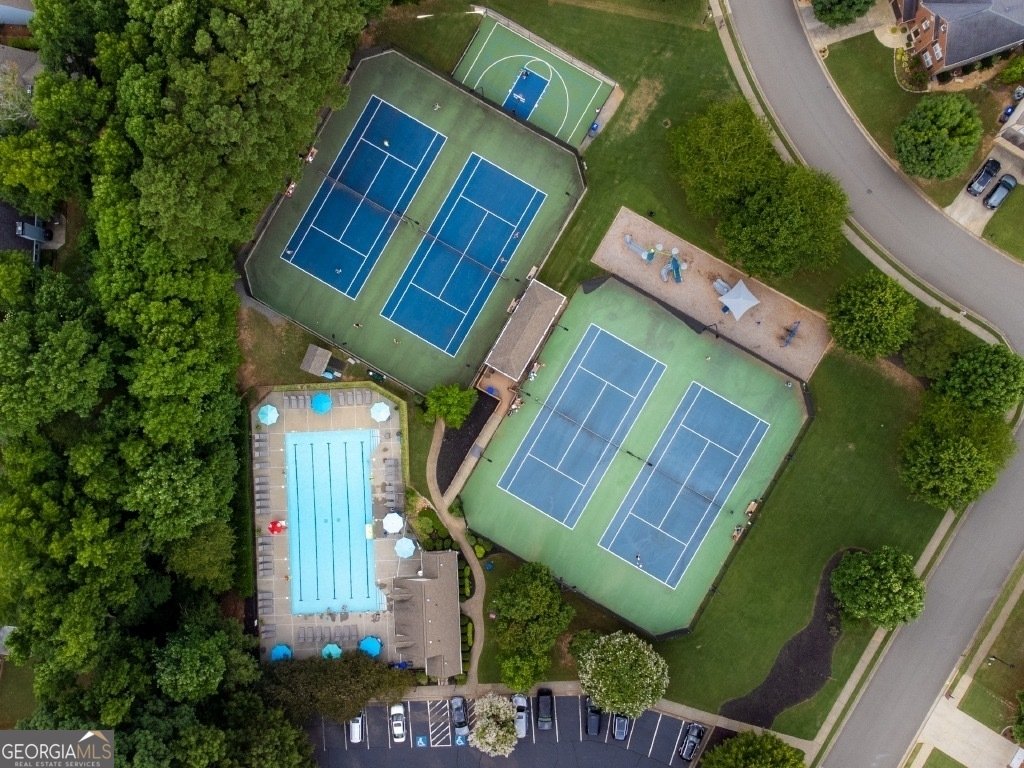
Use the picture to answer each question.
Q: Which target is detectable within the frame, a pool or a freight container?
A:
pool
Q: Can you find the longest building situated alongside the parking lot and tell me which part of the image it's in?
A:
bottom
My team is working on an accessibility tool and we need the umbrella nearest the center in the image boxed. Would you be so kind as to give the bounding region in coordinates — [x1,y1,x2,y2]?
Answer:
[370,401,391,422]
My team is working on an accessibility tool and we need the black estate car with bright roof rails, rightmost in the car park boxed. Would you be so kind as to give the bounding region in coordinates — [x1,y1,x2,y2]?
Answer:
[678,720,703,762]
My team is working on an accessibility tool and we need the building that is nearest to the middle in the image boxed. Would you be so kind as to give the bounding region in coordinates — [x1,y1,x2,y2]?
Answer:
[485,280,567,381]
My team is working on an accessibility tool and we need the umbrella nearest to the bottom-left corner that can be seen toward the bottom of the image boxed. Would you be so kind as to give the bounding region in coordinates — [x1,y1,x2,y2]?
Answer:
[270,640,293,663]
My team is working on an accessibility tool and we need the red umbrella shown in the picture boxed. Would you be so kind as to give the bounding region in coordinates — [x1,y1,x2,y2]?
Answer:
[270,518,286,534]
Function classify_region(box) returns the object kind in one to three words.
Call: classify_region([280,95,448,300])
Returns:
tennis court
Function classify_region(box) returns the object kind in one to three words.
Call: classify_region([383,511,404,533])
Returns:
umbrella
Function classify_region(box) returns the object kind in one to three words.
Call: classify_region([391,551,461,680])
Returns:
building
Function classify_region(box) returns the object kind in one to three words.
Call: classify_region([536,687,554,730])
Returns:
car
